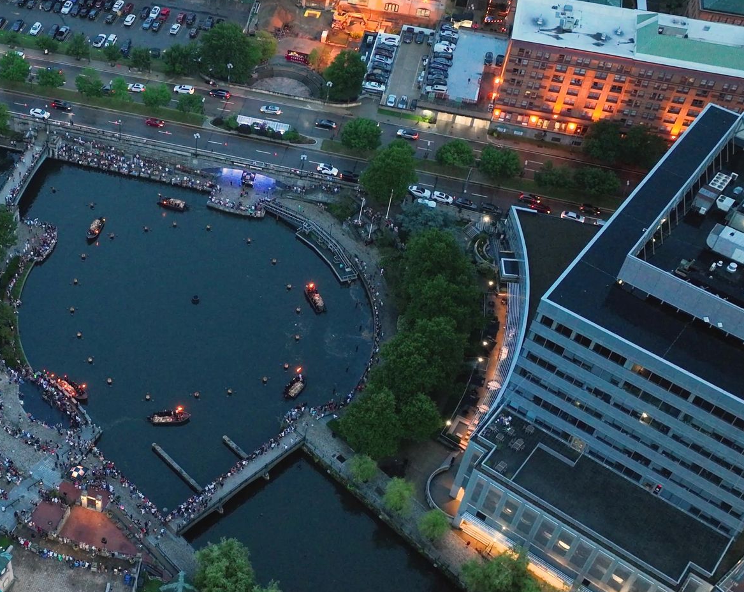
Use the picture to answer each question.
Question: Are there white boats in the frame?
No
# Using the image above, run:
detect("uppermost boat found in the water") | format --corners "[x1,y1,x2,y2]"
[158,191,190,210]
